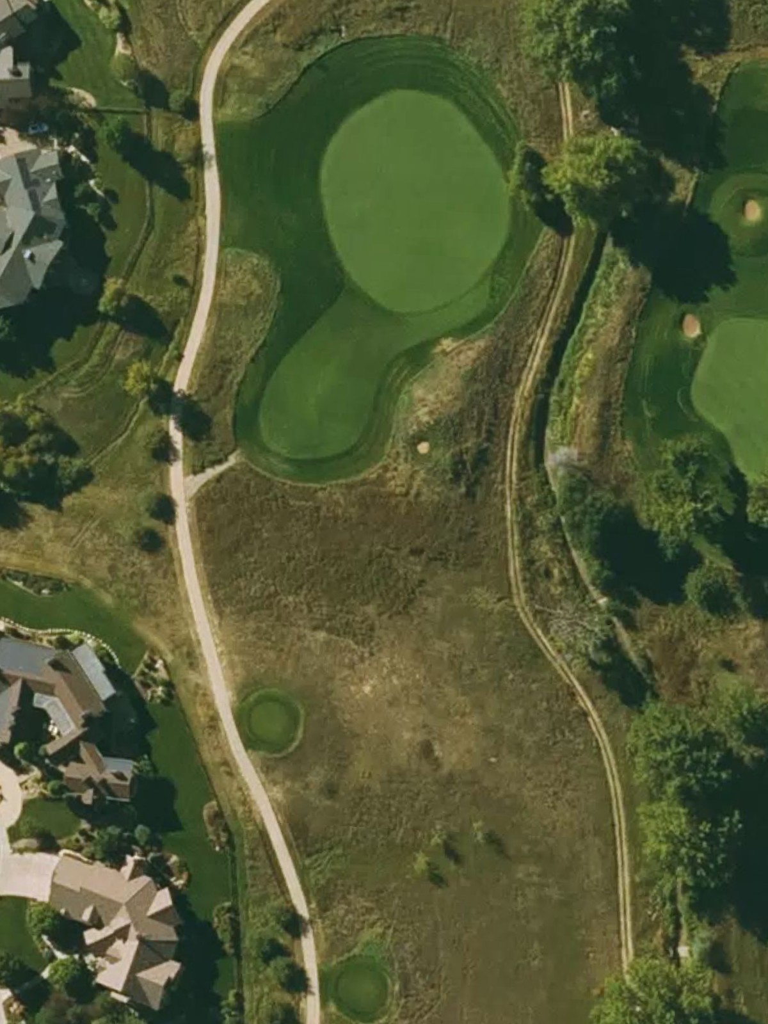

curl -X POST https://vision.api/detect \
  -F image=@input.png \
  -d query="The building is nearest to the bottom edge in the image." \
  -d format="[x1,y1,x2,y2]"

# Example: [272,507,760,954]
[49,855,182,1011]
